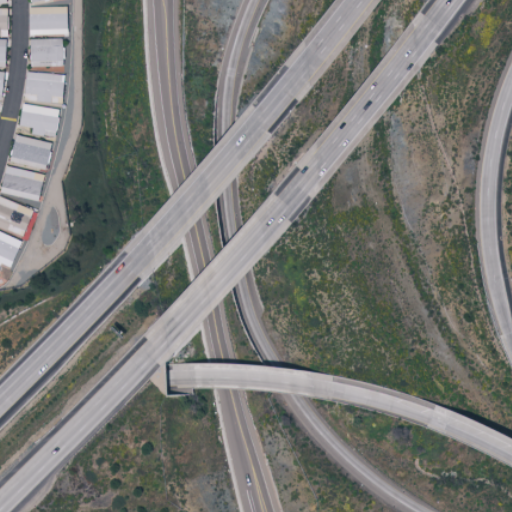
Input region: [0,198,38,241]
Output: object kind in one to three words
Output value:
house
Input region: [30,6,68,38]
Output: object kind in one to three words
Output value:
house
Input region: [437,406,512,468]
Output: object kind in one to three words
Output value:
overpass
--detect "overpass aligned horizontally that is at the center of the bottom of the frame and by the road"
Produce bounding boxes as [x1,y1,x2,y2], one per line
[170,364,314,398]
